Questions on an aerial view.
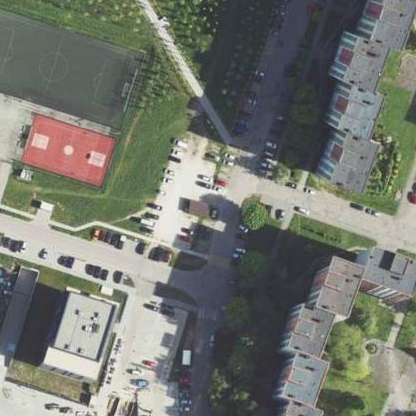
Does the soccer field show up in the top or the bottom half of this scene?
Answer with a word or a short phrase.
top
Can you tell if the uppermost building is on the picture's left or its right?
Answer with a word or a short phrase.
right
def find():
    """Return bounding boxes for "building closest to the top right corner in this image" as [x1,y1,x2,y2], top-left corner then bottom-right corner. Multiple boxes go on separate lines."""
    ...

[354,0,416,56]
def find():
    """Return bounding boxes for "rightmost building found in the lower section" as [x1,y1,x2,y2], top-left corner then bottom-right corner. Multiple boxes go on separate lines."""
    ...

[353,247,416,300]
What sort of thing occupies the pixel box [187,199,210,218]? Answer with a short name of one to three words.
building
